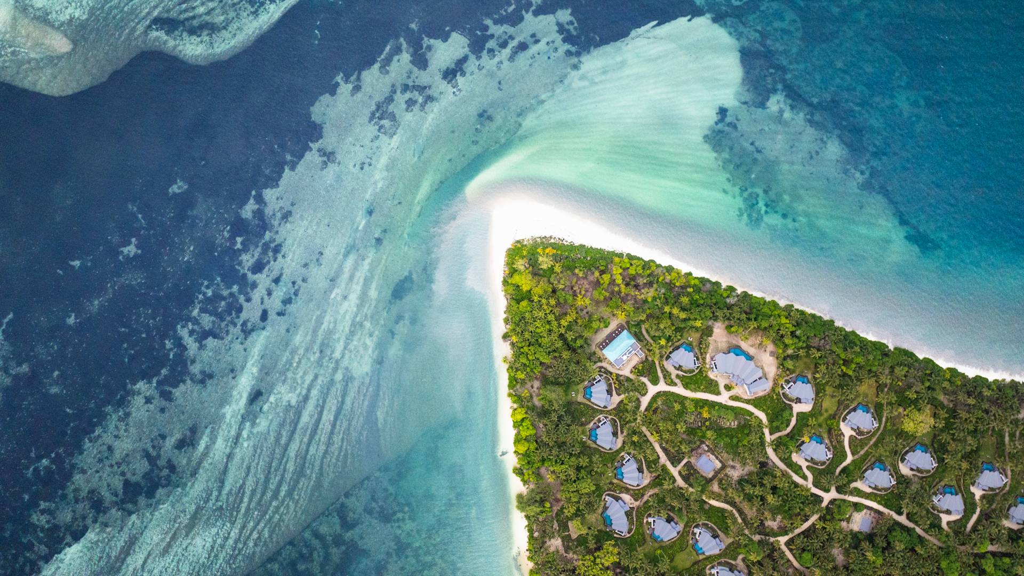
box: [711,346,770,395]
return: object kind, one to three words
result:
building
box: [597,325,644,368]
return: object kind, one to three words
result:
building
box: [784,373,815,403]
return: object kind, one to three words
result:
house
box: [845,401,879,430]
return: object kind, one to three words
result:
house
